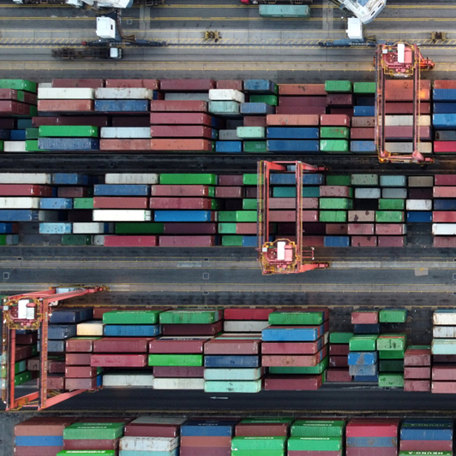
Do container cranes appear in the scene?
Yes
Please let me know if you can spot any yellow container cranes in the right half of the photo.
No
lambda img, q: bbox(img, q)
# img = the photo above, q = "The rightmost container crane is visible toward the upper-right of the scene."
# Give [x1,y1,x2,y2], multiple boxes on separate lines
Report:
[372,41,434,164]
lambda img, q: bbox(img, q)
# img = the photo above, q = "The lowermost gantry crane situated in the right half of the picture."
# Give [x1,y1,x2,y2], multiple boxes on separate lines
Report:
[255,161,329,277]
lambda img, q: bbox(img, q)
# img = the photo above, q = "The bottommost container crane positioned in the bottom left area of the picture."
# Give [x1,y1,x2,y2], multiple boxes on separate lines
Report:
[0,286,102,414]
